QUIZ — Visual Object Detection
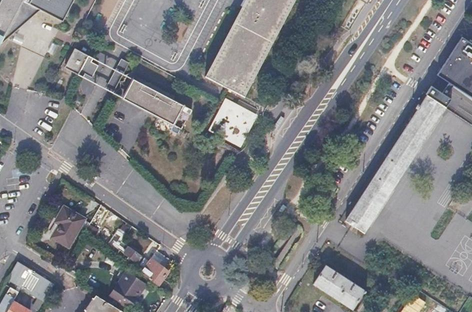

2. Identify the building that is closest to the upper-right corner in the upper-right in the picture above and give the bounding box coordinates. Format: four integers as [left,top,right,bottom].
[436,37,472,94]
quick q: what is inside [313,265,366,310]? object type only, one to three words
building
